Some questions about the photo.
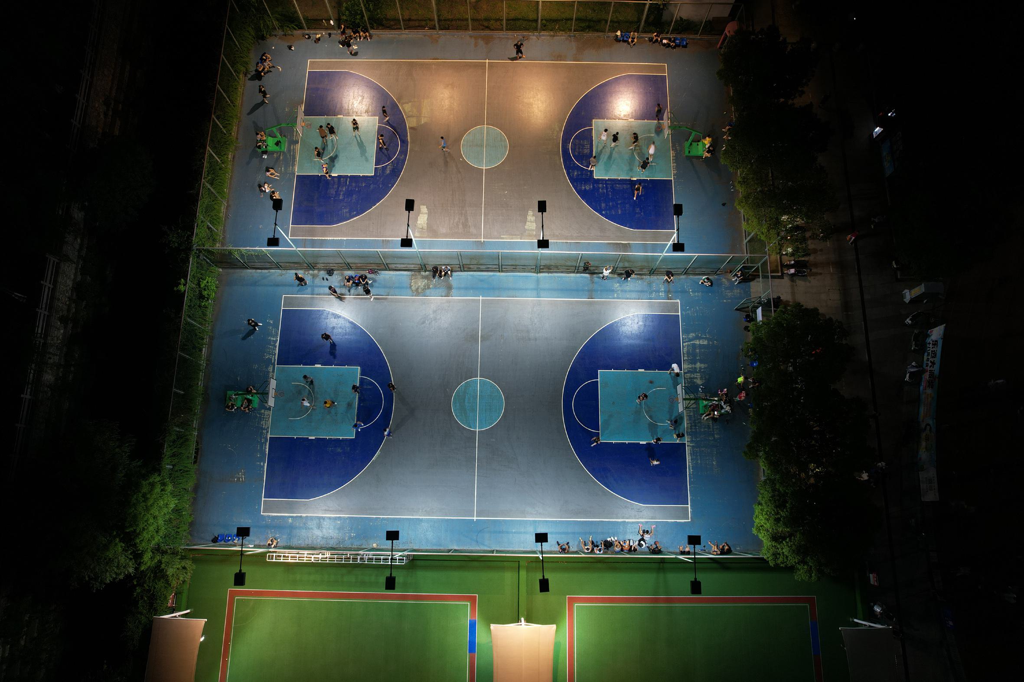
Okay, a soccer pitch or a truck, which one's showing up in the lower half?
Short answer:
soccer pitch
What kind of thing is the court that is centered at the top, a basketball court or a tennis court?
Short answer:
basketball court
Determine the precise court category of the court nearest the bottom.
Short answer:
basketball court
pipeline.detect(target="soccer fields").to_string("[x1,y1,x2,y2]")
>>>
[567,595,823,682]
[217,590,477,682]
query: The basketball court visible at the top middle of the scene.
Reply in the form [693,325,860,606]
[217,37,747,273]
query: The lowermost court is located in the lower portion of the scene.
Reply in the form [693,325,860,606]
[180,270,768,552]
